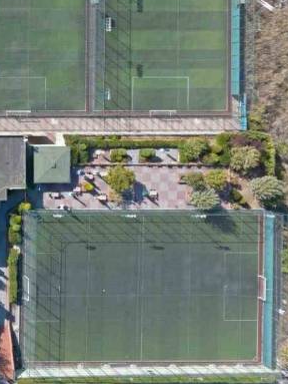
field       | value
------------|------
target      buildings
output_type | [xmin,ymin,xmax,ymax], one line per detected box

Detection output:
[0,135,27,194]
[33,146,70,183]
